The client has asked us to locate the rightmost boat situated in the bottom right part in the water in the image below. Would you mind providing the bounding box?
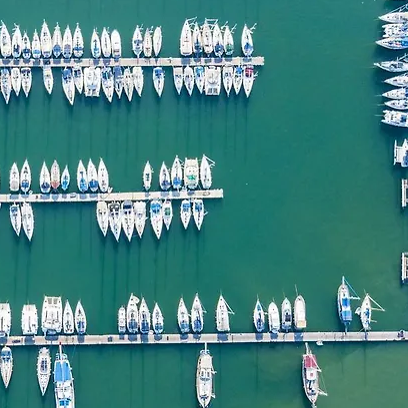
[360,294,388,336]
